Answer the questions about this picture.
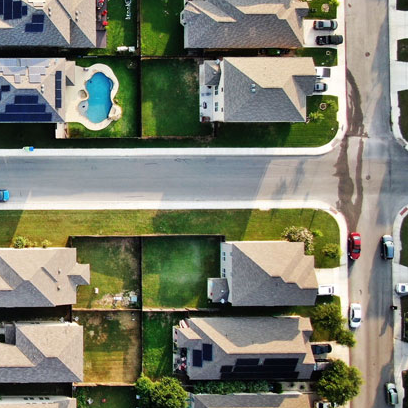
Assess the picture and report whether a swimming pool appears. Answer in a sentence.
Yes, there's a swimming pool down there.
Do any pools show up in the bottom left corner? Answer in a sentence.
No, no pool can be made out in the bottom left corner.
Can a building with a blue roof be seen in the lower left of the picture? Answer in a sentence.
No, I can find no building with a blue roof in the lower left of the picture.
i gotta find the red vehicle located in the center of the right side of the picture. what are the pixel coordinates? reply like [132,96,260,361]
[347,234,359,258]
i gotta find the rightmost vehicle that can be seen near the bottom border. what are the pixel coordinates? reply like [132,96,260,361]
[384,381,397,406]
